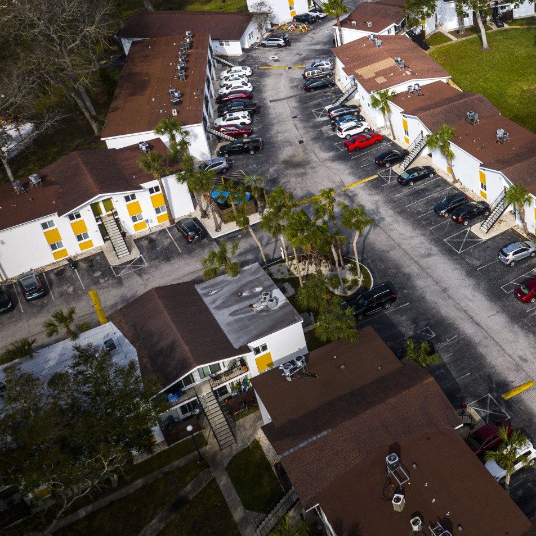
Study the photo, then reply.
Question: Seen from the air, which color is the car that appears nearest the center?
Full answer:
The car that appears nearest the center is black.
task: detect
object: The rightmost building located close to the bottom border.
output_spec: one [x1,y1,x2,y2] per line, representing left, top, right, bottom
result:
[229,324,536,536]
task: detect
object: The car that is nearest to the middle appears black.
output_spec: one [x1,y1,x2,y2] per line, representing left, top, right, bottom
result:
[176,219,206,247]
